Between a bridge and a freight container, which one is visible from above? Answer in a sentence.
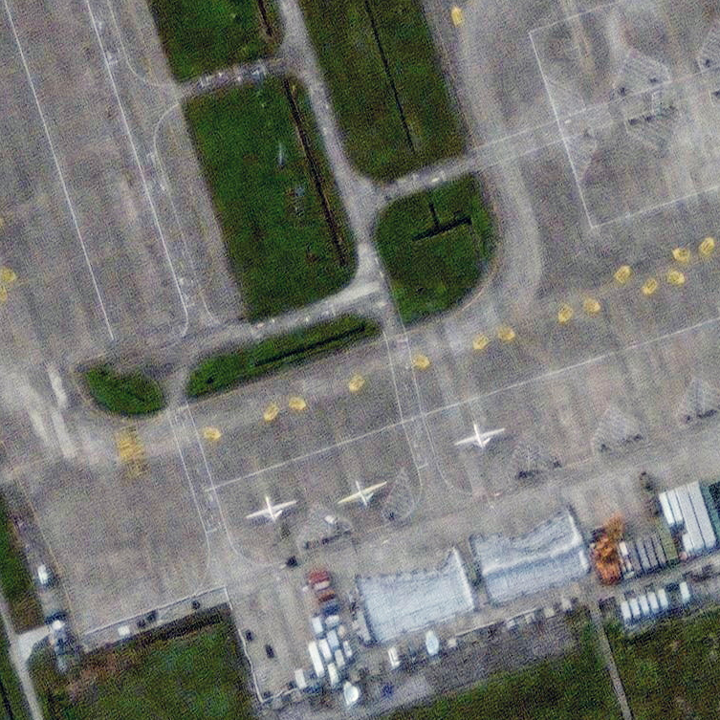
There is a freight container in the scene.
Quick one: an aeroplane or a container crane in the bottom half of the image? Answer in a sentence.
Looking in the bottom half of the image, you will find an aeroplane.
